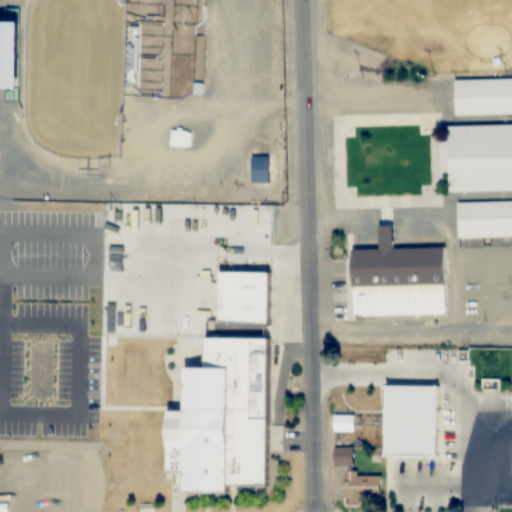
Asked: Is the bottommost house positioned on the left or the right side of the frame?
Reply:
right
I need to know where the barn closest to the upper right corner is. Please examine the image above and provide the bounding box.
[454,78,512,116]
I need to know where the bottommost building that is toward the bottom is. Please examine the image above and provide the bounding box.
[344,470,382,508]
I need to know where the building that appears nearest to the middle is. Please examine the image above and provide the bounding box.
[218,271,270,322]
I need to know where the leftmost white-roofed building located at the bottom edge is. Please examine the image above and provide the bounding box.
[164,338,270,492]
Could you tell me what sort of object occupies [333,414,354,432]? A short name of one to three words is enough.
building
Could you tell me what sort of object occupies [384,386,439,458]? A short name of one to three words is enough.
building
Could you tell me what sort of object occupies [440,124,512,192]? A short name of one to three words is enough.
barn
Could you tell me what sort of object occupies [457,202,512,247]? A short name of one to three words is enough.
barn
